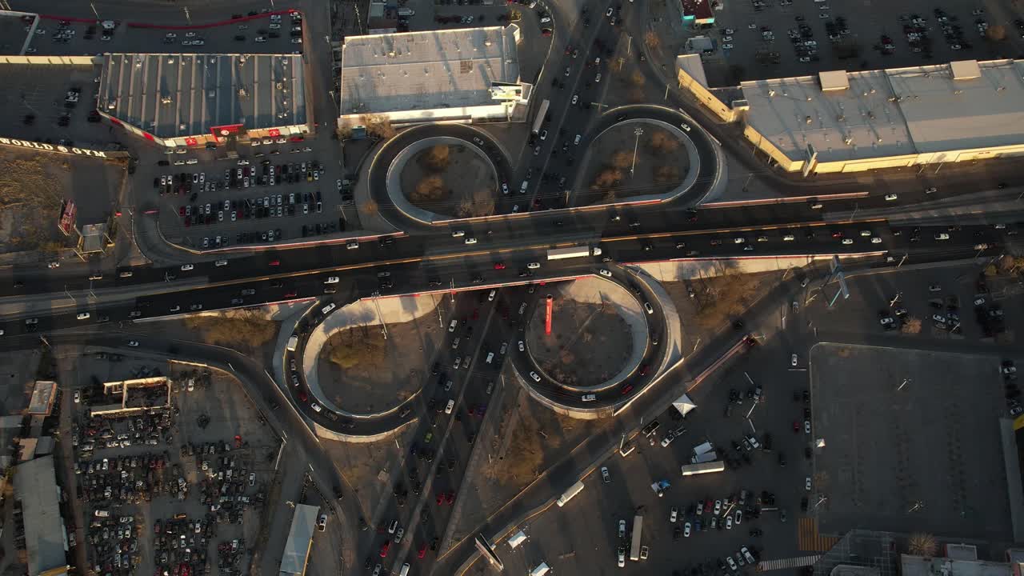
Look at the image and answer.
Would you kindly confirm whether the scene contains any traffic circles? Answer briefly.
No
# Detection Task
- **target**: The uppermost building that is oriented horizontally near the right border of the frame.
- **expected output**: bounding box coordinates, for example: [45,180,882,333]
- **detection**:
[740,59,1024,175]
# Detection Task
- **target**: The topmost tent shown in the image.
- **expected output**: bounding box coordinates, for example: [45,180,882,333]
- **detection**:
[669,392,697,419]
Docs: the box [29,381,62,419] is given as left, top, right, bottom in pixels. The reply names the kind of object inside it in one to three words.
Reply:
building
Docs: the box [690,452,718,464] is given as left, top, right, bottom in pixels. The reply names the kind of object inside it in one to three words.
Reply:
vehicle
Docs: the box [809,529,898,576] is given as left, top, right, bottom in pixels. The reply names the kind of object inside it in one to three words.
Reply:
building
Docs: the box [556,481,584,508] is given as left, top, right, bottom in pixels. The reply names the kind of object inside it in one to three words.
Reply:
truck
